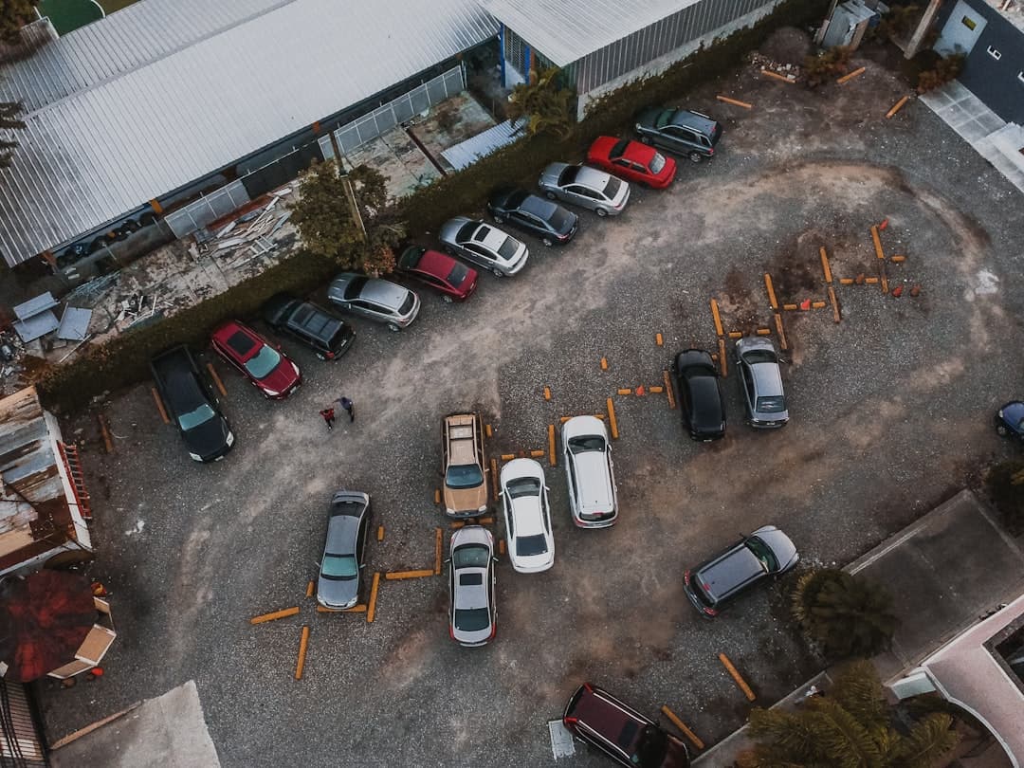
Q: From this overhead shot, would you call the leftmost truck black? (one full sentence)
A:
Yes, the leftmost truck is indeed black.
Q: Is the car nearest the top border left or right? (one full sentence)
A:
The car nearest the top border appears in the right half of the scene.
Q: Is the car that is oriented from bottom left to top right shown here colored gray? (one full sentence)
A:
Yes, the car that is oriented from bottom left to top right is indeed gray.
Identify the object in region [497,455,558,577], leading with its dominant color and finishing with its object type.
white car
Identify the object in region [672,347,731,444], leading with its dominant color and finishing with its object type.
black car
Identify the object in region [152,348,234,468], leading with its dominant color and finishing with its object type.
black truck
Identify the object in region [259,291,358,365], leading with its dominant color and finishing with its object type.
black car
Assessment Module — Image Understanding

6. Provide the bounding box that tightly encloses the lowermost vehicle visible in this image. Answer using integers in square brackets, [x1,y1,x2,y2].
[556,676,690,768]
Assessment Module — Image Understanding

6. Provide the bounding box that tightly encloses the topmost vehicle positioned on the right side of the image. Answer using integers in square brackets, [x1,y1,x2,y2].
[634,102,727,162]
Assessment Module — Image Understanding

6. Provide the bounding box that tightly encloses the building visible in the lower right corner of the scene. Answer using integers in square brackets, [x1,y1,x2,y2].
[909,589,1024,768]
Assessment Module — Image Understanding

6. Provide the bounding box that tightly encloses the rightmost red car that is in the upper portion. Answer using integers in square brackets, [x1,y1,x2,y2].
[584,135,679,193]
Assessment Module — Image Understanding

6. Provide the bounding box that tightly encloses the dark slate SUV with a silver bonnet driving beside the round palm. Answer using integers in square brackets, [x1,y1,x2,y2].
[682,524,800,625]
